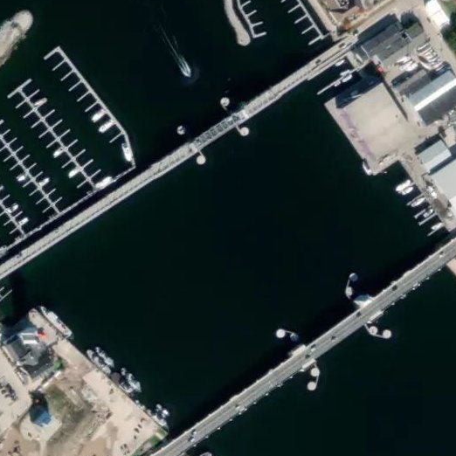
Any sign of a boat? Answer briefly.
Yes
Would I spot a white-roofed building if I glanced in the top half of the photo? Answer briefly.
Yes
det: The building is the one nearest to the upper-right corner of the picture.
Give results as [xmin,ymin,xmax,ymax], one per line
[425,0,448,29]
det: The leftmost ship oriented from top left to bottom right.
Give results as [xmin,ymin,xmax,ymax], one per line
[40,308,73,340]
